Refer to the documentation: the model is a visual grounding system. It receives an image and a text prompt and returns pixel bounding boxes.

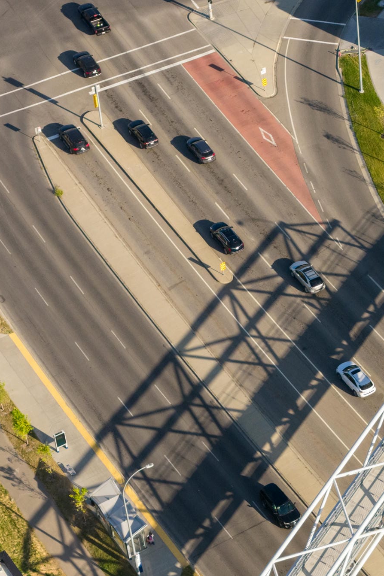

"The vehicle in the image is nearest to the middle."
[209,221,244,258]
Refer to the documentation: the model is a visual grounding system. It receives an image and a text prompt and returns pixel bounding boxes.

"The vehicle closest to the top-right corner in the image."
[186,136,218,168]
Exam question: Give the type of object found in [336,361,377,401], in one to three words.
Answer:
car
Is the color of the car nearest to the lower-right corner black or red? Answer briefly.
black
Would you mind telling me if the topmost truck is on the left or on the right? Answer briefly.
left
